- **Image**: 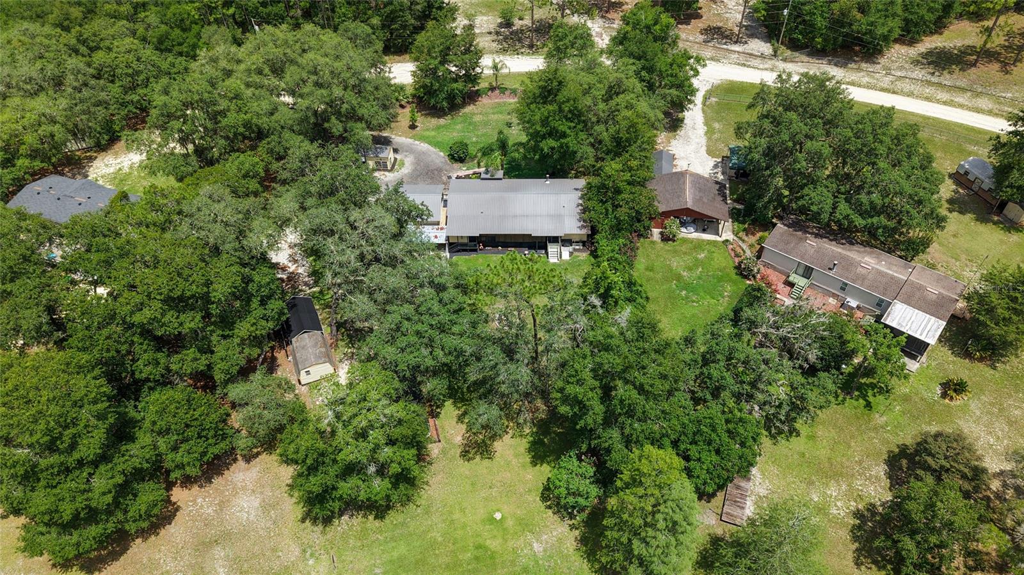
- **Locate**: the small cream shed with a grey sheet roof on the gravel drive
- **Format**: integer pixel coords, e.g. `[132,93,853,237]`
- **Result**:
[366,143,396,171]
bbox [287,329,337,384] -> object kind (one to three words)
shed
